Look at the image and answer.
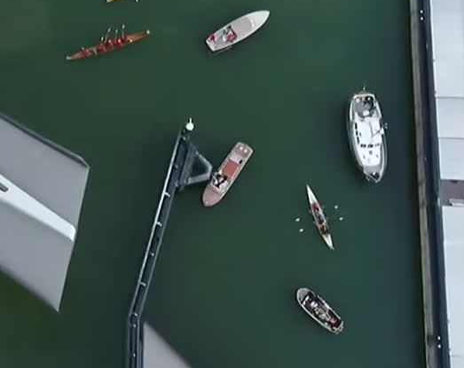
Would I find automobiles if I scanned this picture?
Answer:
No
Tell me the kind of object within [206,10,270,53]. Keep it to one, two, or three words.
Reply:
boat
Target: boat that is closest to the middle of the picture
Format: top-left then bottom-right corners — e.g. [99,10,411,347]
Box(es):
[200,142,253,207]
